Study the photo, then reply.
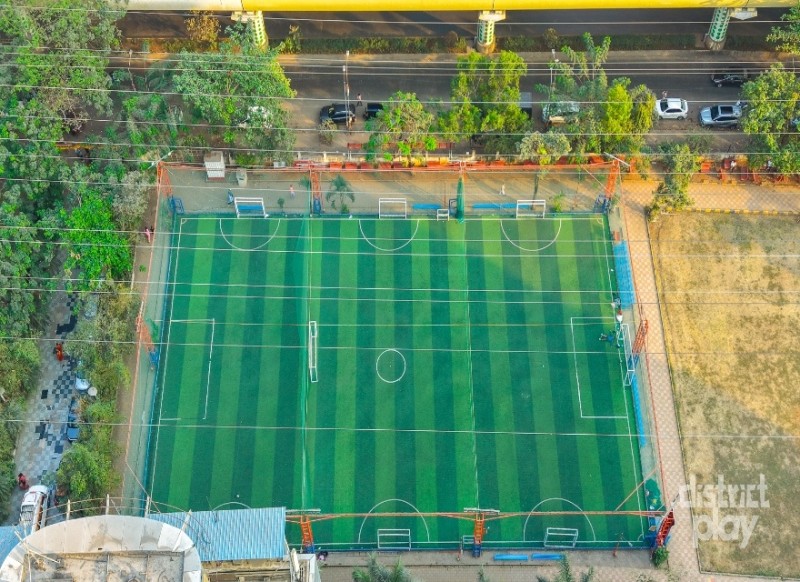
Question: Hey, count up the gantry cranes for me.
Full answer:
The photo contains no gantry cranes.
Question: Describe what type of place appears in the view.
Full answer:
This image shows a sports ground.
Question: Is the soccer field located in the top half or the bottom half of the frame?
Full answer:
The soccer field sits in the bottom half of the picture.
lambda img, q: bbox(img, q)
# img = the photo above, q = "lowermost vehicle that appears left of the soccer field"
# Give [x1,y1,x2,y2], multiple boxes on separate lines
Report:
[10,484,48,527]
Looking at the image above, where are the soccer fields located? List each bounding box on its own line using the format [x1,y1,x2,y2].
[139,211,655,552]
